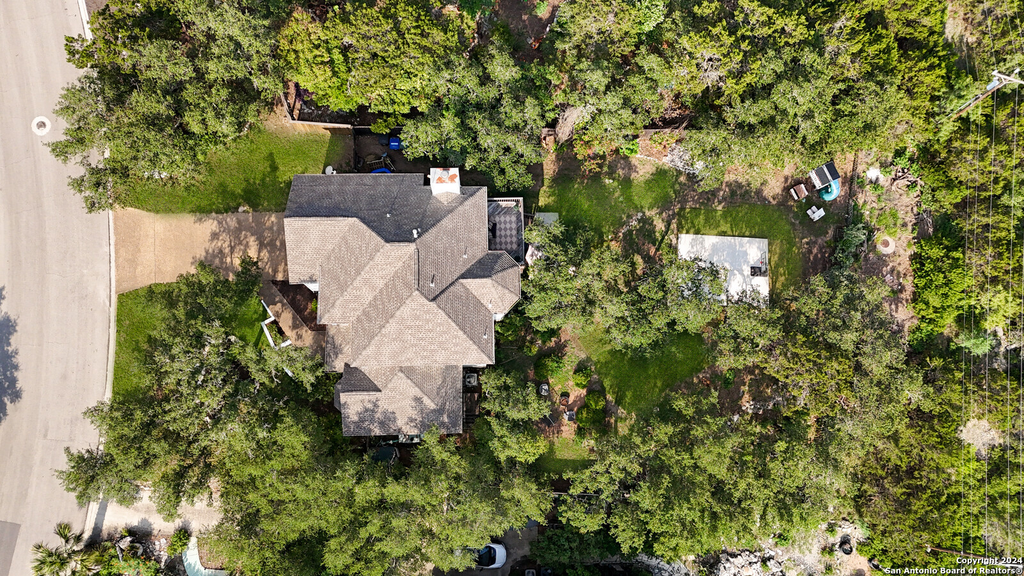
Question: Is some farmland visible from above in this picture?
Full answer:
No, the scene doesn't show any farmland.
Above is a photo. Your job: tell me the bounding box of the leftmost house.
[285,168,522,436]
